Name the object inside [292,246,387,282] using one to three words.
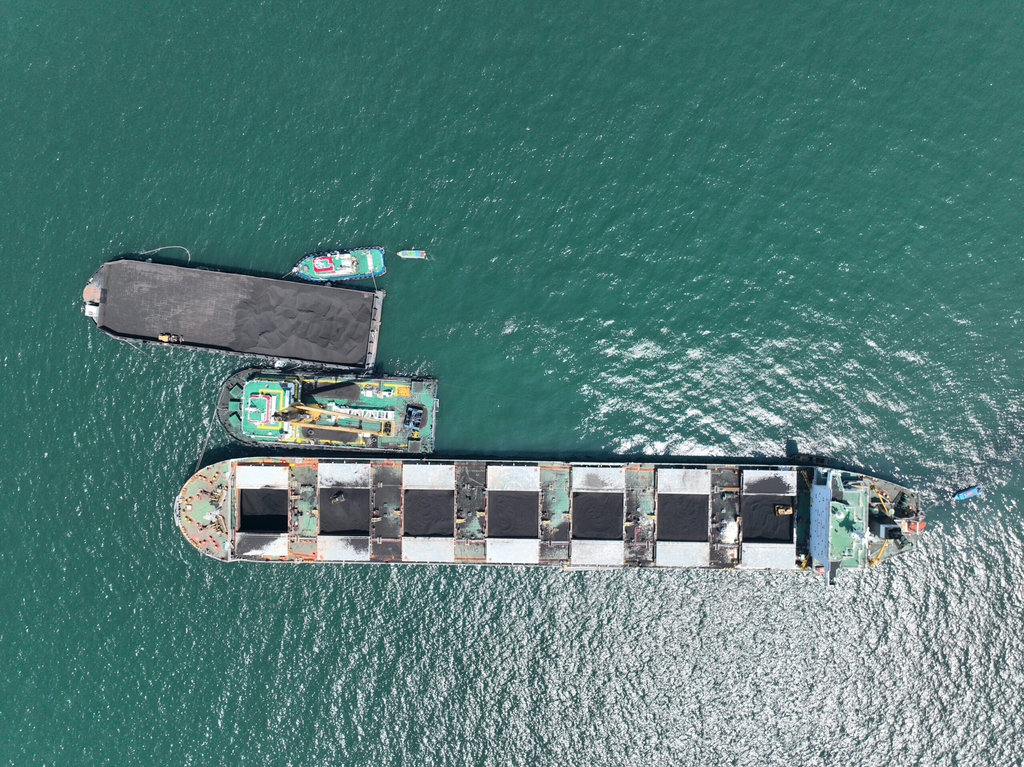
boat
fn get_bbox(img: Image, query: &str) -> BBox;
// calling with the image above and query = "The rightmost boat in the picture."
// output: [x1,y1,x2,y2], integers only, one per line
[955,486,986,499]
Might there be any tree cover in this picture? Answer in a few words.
No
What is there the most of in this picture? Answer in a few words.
water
